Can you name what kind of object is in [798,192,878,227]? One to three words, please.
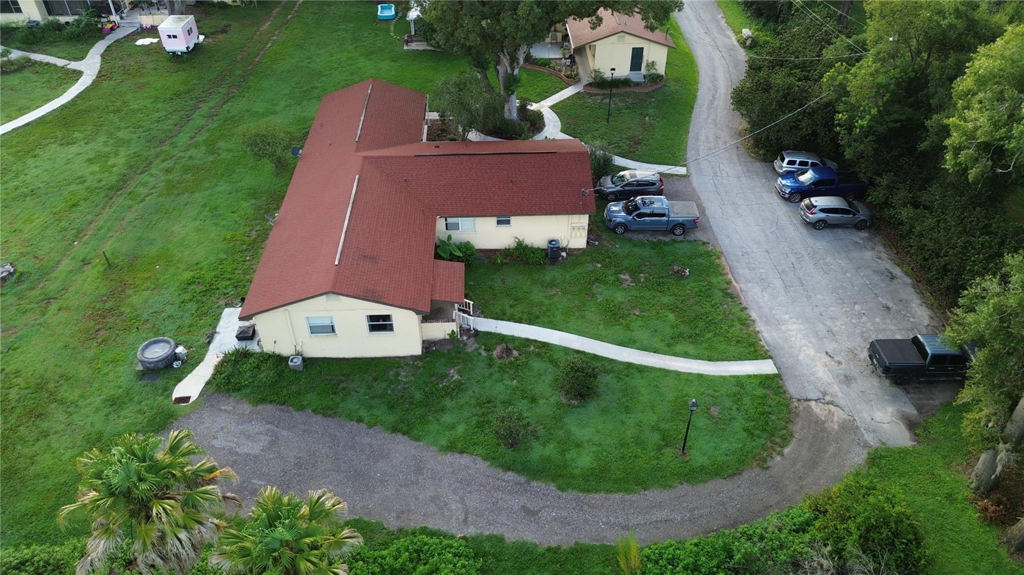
car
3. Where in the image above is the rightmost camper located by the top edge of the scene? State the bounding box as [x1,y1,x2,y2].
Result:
[157,15,206,53]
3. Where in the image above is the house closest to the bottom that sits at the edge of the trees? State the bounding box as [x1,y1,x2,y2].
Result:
[239,79,595,353]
